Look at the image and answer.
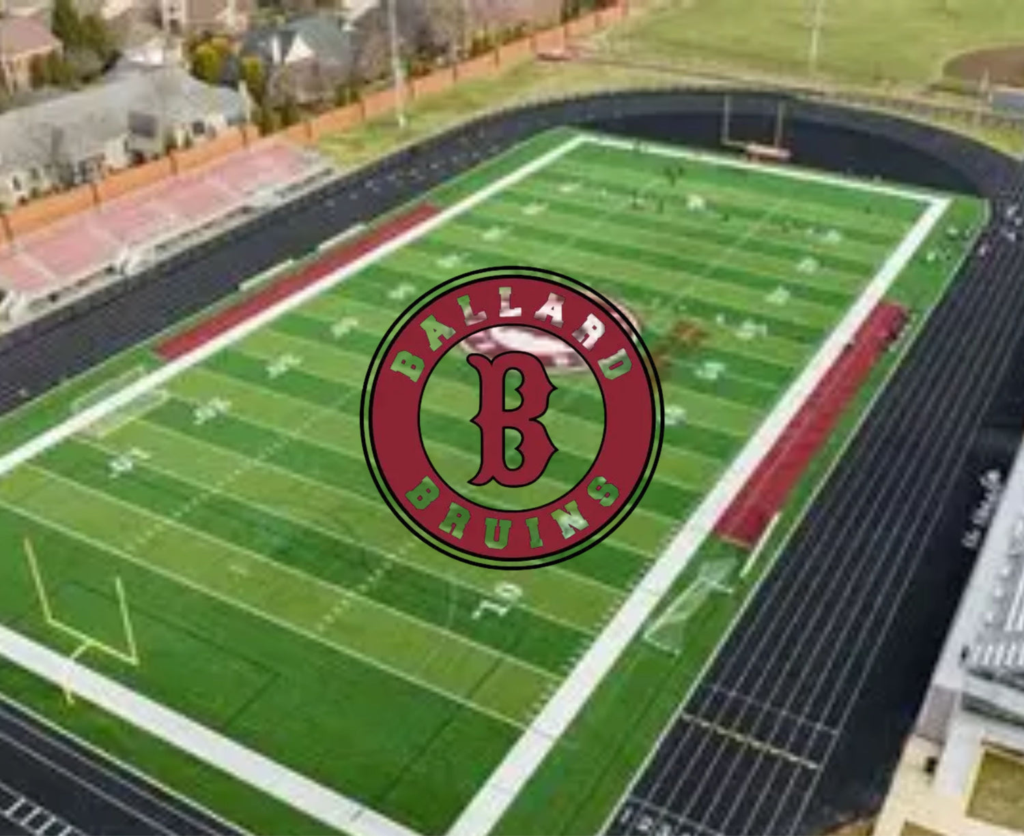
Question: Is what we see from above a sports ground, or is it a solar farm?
sports ground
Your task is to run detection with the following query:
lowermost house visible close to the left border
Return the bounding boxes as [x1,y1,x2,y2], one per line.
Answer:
[0,77,267,214]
